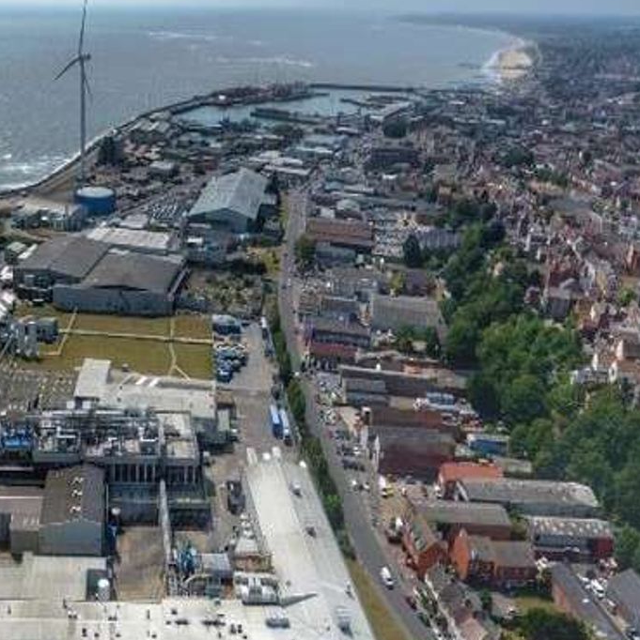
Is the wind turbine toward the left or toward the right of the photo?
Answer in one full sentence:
It is on the left.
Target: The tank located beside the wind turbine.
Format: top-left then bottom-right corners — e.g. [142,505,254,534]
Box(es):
[74,188,115,217]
